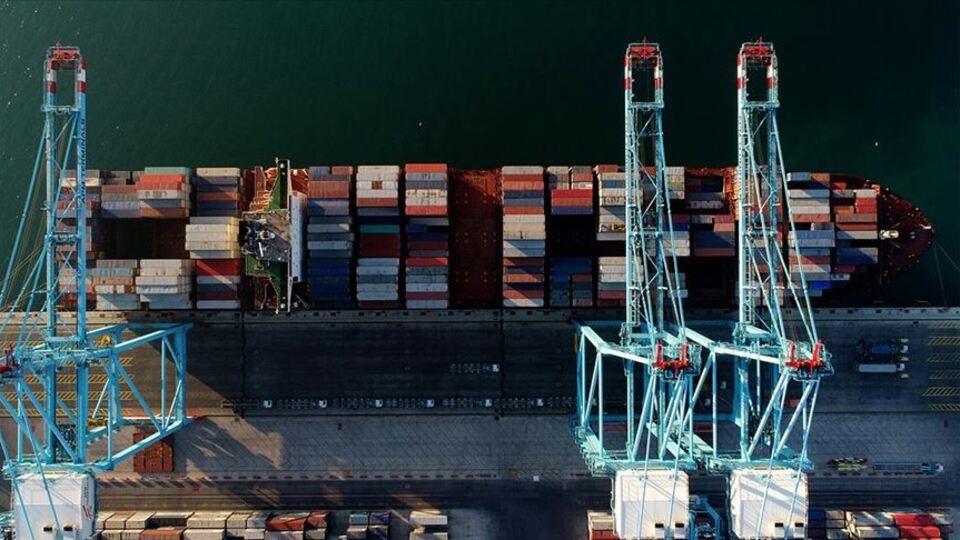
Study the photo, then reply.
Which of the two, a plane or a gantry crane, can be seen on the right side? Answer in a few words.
gantry crane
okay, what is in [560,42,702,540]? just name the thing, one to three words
container crane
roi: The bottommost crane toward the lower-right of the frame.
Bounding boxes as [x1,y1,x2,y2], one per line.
[686,487,722,540]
